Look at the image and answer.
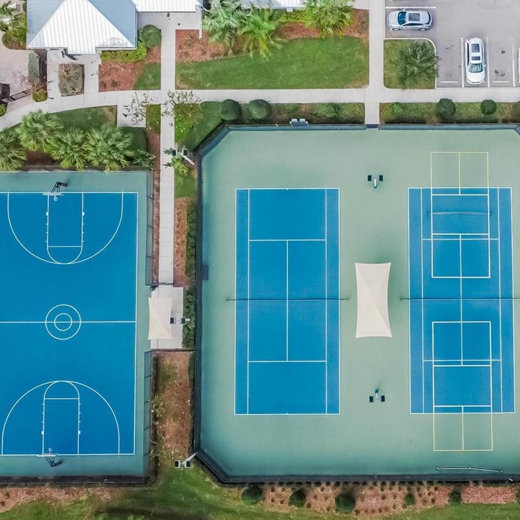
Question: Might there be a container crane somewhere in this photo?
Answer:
No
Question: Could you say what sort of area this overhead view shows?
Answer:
sports ground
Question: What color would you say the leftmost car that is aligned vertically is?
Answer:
white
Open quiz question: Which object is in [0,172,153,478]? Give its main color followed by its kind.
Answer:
blue basketball court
